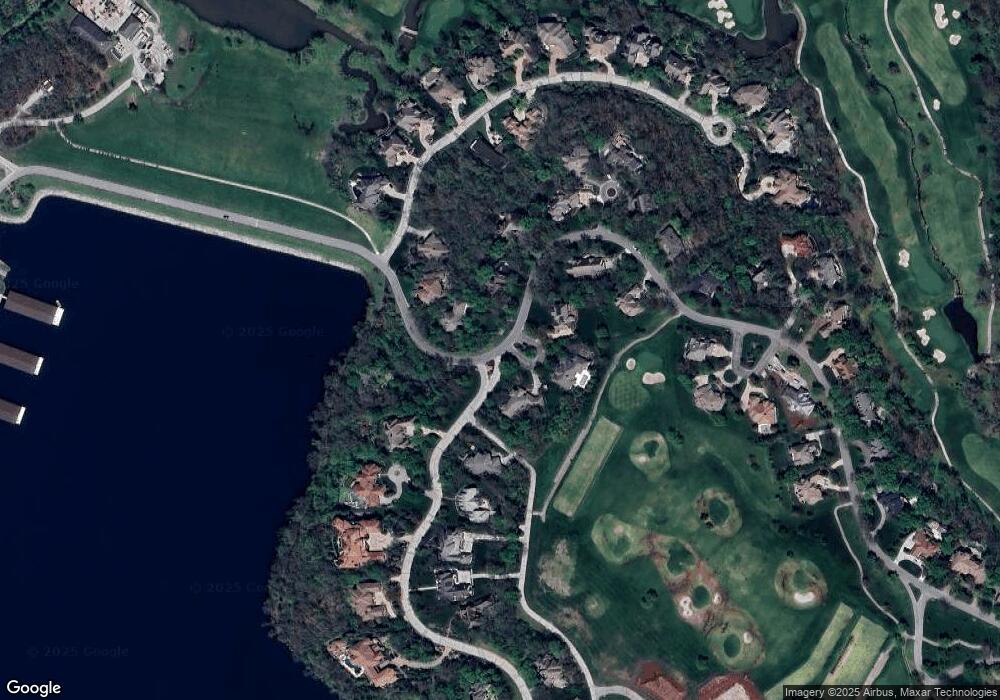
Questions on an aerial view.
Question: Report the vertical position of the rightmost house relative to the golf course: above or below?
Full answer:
It's below the golf course that the rightmost house shows up.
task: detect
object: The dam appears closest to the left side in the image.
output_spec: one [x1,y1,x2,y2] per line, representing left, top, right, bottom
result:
[0,185,369,286]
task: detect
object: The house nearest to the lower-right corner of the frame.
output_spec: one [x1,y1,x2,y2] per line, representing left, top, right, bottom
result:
[948,548,990,587]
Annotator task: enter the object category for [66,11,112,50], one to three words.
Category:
shed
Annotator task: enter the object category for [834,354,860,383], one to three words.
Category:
house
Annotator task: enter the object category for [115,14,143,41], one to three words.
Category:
shed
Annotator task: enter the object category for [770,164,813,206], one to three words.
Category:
house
